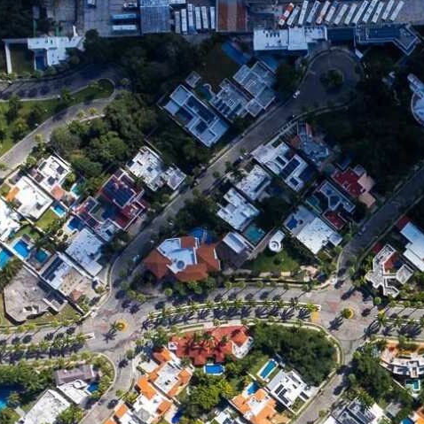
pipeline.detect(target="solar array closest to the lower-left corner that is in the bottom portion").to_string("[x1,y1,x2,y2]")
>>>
[41,256,64,282]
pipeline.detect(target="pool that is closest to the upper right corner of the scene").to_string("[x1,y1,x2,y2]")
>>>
[254,51,282,70]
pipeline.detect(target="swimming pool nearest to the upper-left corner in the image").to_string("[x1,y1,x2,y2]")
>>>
[34,51,47,70]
